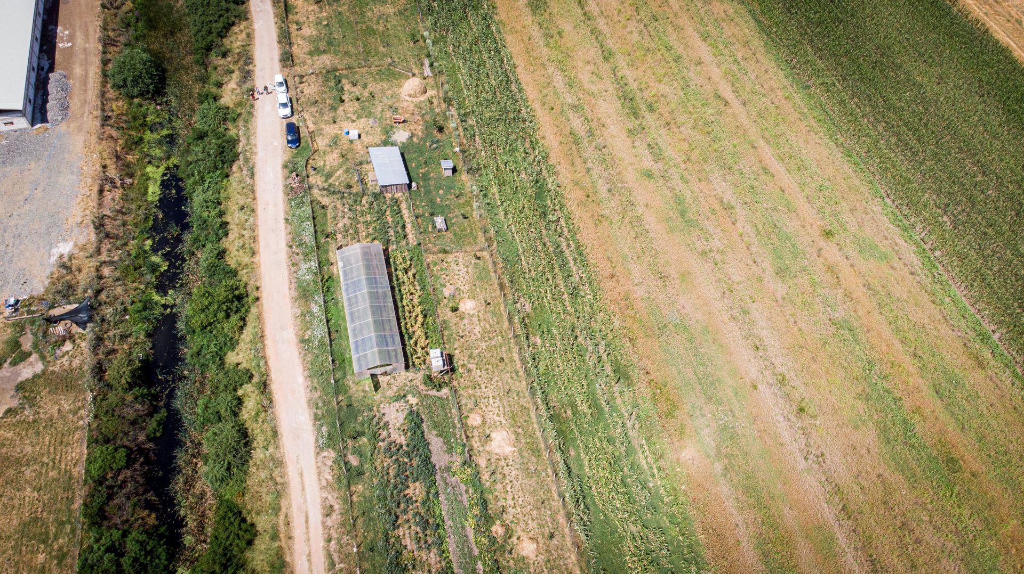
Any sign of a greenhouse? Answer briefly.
Yes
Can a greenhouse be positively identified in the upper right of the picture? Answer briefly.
No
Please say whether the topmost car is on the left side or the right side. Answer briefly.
left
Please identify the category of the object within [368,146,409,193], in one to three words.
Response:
shed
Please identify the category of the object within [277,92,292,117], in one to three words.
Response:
car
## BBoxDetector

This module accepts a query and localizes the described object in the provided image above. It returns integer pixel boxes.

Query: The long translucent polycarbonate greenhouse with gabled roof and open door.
[335,242,405,390]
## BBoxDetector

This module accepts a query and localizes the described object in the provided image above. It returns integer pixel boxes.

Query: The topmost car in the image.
[269,70,289,93]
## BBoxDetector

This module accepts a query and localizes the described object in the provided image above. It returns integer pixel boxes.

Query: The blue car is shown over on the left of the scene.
[284,121,299,147]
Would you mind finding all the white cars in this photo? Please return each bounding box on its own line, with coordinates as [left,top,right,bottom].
[269,70,289,93]
[277,92,292,117]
